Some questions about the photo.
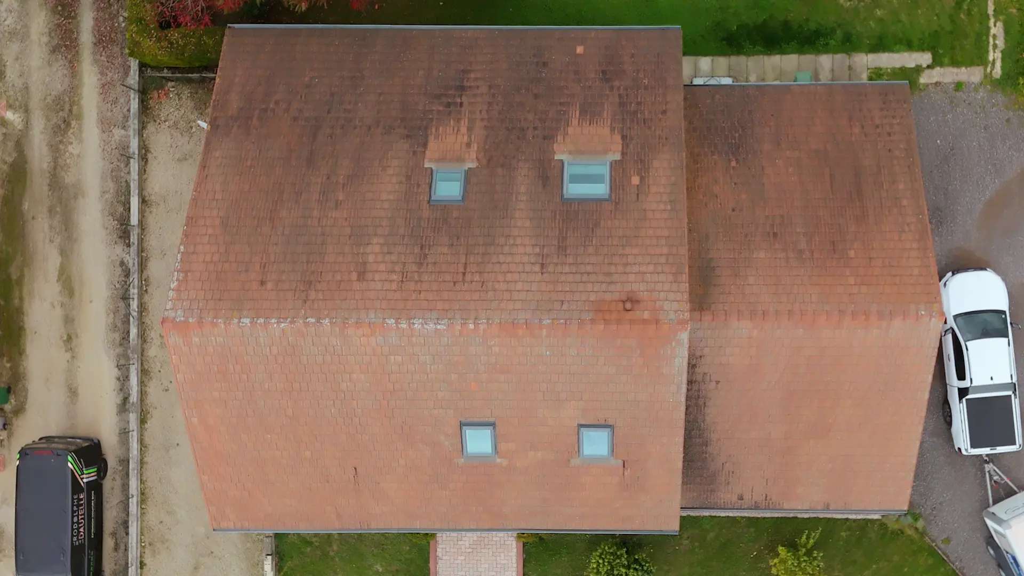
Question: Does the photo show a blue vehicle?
No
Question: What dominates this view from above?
buildings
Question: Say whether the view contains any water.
No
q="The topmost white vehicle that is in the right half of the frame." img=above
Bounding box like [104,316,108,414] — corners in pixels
[942,268,1024,458]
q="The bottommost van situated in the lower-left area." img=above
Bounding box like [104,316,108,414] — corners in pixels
[16,435,106,576]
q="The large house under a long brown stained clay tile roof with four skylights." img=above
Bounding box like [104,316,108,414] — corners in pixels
[161,23,690,537]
